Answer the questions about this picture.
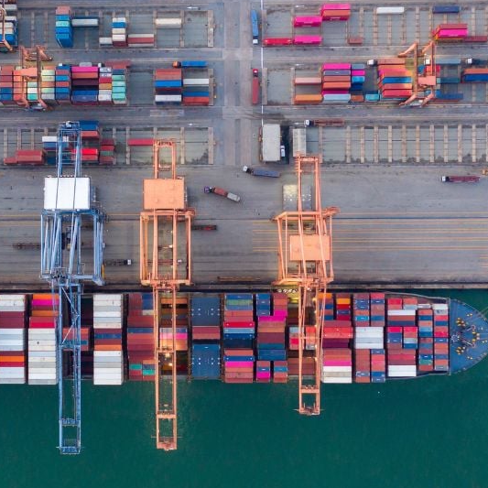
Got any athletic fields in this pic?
No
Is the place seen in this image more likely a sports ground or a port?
port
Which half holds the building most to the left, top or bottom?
top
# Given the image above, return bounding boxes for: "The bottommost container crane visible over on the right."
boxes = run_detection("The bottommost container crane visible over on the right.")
[262,152,347,415]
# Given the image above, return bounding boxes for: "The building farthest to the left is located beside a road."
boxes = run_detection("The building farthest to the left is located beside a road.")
[258,124,280,162]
